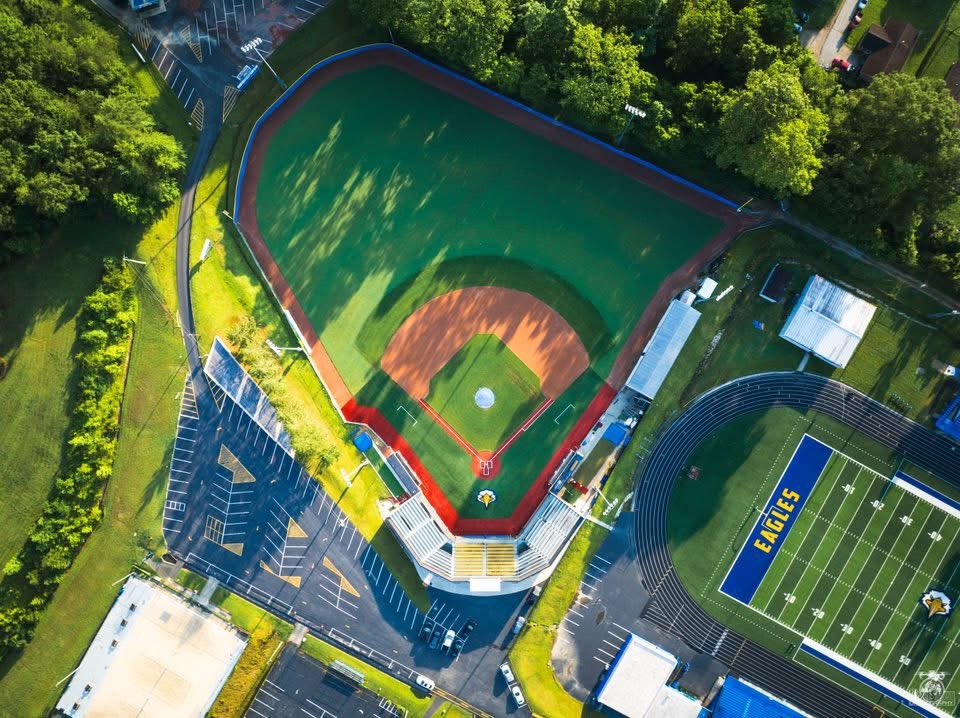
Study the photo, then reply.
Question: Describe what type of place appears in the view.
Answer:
sports ground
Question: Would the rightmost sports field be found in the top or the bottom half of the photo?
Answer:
bottom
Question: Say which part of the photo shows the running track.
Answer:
bottom right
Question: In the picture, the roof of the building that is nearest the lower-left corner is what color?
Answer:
white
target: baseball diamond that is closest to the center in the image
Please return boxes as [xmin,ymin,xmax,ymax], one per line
[236,47,747,535]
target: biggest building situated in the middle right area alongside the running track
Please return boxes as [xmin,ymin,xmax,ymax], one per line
[774,276,877,367]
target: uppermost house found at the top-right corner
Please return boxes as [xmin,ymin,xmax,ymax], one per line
[852,18,921,77]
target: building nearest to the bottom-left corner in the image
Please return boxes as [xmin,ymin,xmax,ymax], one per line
[51,570,255,718]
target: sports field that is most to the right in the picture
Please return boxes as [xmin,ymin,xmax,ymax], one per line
[666,406,960,718]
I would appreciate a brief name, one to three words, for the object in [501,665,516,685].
car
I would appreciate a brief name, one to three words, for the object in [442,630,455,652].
vehicle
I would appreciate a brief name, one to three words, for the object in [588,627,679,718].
building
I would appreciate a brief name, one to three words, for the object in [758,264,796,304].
building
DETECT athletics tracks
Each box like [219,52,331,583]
[629,369,960,718]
